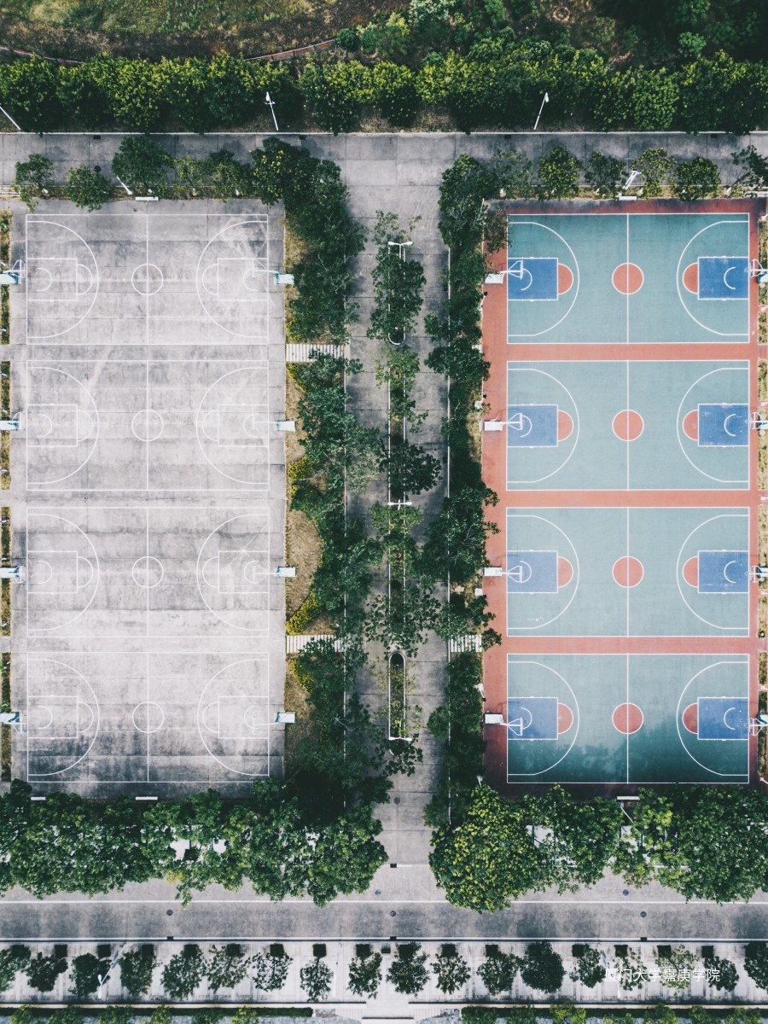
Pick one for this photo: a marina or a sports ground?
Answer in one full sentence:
What you see here is a sports ground.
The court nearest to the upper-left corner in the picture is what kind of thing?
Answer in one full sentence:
It looks like the court nearest to the upper-left corner is a basketball court.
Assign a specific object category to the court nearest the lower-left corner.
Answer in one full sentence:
In the photo, the court nearest the lower-left corner shows up as a basketball court.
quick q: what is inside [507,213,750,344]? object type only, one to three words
basketball court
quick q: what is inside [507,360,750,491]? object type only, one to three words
basketball court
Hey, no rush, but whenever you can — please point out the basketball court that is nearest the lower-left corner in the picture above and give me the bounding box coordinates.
[27,652,269,783]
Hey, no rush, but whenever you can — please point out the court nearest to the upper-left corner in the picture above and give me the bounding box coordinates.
[26,214,268,344]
